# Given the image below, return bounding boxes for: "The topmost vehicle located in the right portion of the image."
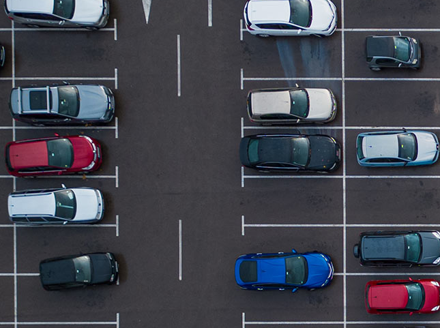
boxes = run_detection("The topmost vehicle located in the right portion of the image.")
[241,0,338,39]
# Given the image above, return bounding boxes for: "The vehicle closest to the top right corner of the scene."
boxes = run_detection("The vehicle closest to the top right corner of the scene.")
[364,30,421,72]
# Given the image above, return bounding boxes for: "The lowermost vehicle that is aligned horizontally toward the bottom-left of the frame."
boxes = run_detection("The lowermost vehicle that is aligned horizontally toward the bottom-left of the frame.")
[37,250,121,292]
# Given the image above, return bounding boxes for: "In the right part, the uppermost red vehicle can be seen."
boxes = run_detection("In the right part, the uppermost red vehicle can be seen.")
[365,275,440,318]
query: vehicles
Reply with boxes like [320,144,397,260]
[355,126,440,171]
[238,129,342,175]
[2,131,104,179]
[7,81,118,127]
[352,227,440,272]
[365,275,440,318]
[246,82,338,127]
[232,248,336,294]
[241,0,338,39]
[364,30,421,72]
[6,183,108,227]
[2,0,112,28]
[37,250,121,292]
